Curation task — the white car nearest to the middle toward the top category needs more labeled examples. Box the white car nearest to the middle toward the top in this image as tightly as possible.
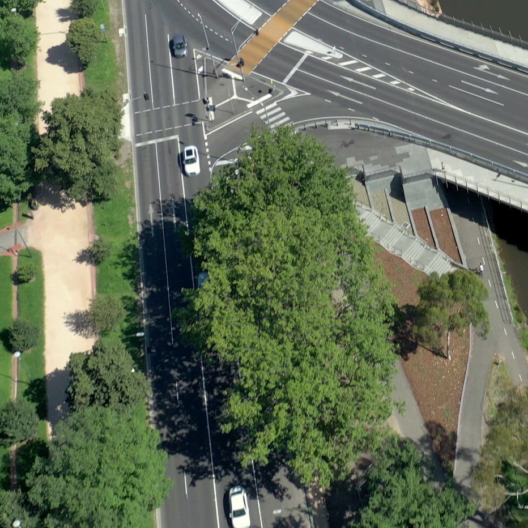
[183,143,201,174]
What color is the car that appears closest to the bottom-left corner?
white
